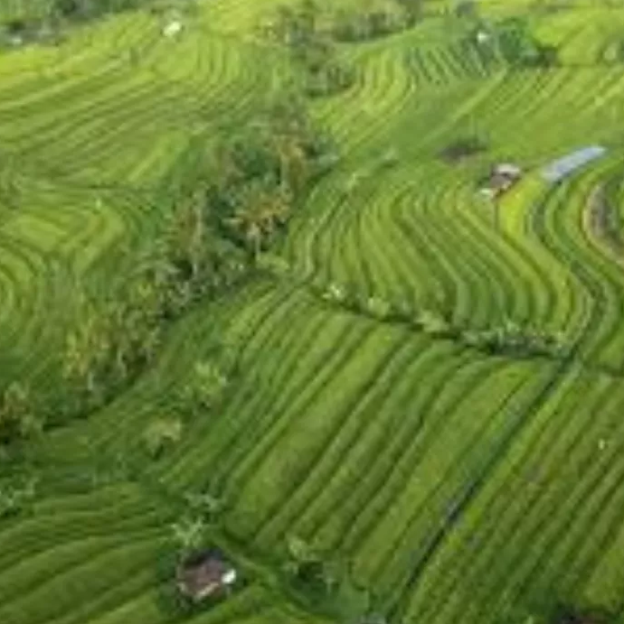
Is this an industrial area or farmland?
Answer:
farmland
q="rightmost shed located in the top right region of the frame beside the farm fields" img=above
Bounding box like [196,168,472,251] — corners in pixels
[542,147,609,182]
